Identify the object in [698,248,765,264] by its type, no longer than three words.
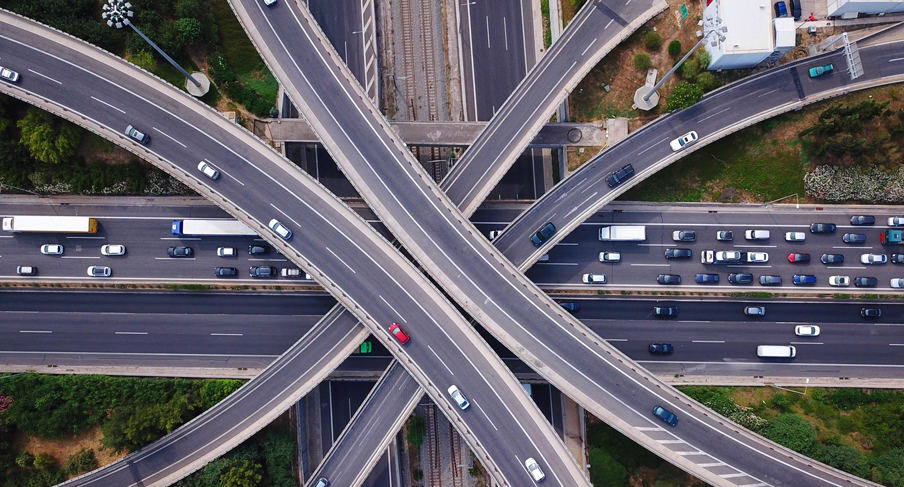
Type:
vehicle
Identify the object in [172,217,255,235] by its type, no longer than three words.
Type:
vehicle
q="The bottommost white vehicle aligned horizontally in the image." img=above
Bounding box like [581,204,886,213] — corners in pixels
[757,346,795,358]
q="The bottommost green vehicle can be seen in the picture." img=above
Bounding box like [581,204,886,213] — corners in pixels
[350,340,376,356]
